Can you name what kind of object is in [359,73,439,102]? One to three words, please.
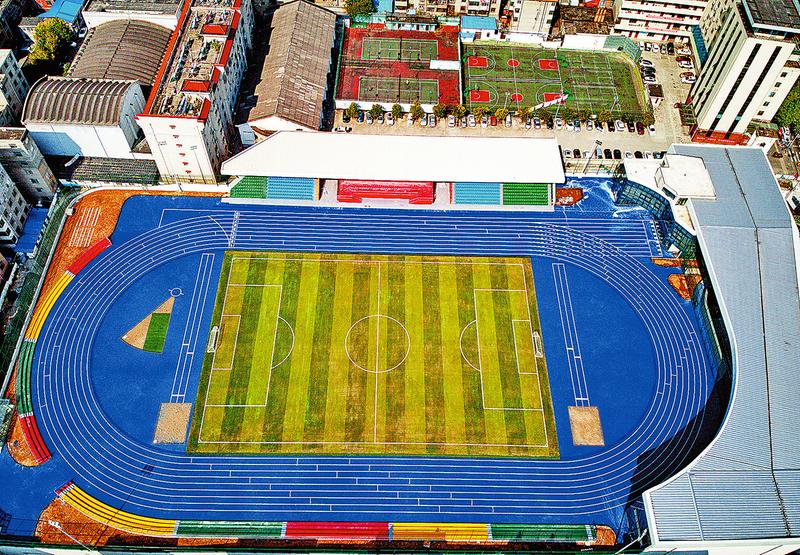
tennis court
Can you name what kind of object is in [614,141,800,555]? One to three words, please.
building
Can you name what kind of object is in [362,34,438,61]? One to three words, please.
tennis court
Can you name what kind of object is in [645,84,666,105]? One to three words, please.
shed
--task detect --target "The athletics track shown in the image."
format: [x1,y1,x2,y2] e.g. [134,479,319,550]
[28,210,711,521]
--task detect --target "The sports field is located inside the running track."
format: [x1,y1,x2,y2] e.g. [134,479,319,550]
[184,251,561,457]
